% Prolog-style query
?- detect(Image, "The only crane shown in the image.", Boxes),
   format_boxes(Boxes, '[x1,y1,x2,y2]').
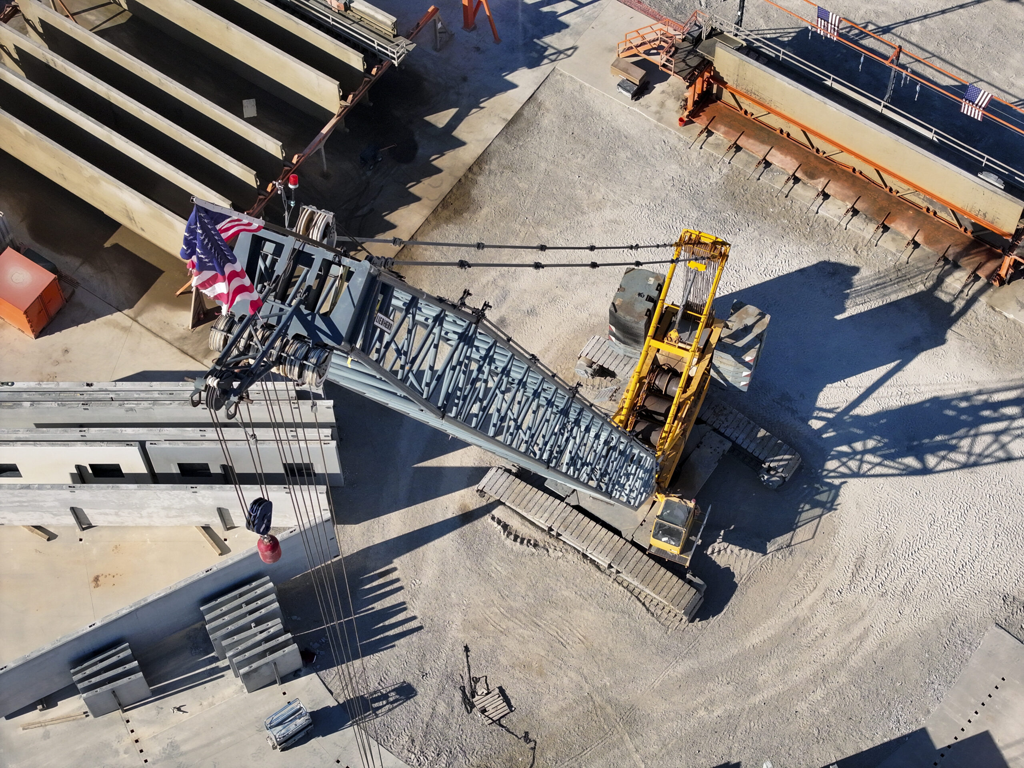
[183,174,809,768]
